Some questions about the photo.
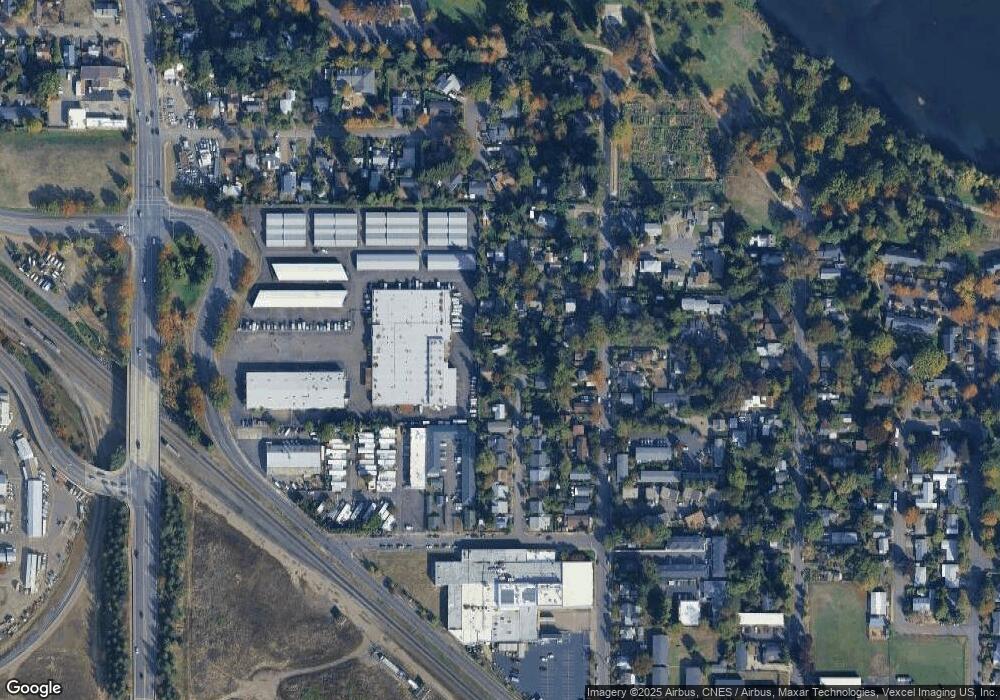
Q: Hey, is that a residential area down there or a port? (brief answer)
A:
residential area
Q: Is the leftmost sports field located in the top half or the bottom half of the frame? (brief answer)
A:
bottom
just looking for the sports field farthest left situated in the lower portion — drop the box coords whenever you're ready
[808,581,888,690]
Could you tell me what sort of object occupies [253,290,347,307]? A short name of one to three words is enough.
shed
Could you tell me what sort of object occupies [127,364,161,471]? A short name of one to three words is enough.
overpass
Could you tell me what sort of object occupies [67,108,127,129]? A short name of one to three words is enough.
building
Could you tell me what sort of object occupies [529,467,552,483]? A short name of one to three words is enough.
house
